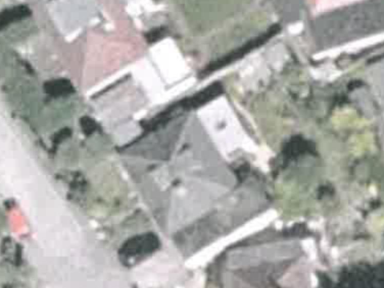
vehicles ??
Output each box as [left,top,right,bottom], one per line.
[115,234,166,267]
[3,199,34,246]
